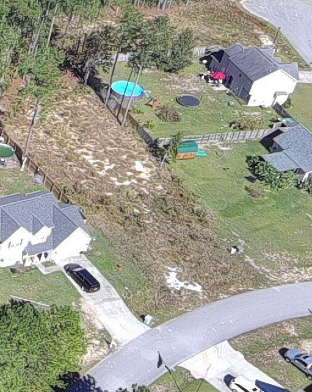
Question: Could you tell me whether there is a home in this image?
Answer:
Yes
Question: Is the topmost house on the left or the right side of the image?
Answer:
right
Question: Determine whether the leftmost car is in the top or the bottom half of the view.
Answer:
bottom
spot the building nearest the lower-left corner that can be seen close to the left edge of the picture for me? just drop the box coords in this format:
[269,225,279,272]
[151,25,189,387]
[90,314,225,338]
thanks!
[0,193,96,270]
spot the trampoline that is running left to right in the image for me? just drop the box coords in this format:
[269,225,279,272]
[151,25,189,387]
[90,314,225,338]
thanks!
[175,95,202,109]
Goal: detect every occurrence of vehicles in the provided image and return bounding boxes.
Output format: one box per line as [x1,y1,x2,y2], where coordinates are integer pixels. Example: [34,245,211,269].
[226,377,264,392]
[65,264,105,294]
[278,349,312,379]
